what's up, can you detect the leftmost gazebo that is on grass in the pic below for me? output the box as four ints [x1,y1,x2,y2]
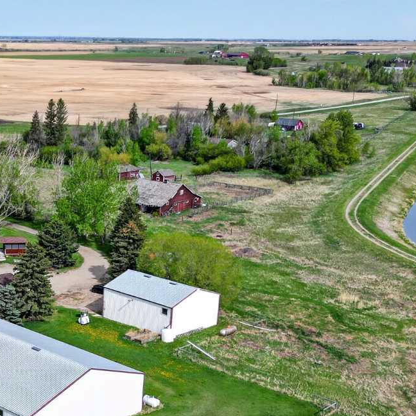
[0,235,30,255]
